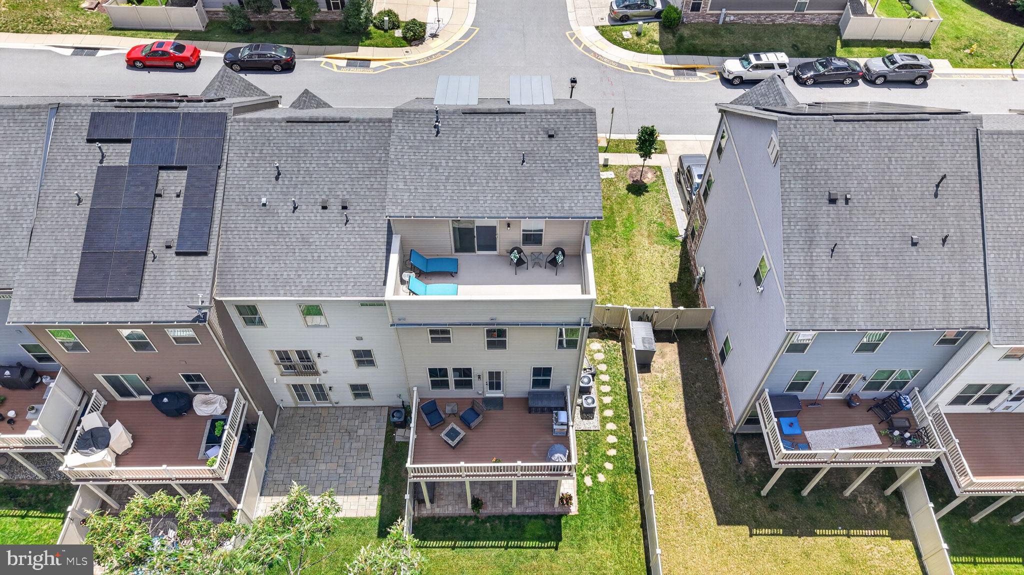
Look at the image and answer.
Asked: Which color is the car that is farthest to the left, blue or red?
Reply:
red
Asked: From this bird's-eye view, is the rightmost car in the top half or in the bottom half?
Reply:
top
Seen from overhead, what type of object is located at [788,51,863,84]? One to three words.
car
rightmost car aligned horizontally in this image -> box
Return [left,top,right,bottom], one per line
[856,46,935,84]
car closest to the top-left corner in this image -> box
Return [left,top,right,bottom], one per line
[131,37,210,68]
